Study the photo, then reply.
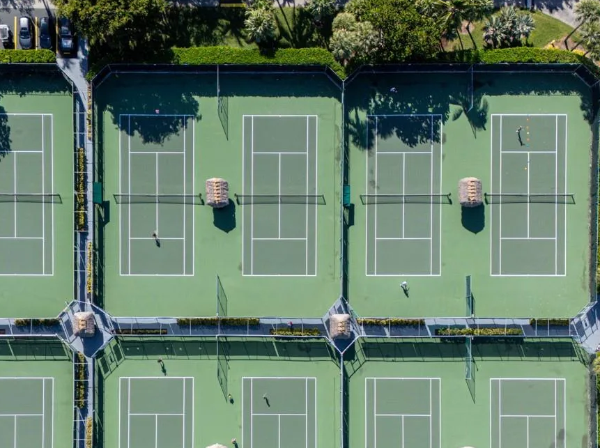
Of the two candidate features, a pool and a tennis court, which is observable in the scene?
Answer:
tennis court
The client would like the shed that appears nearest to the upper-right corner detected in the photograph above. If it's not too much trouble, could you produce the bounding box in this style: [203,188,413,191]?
[454,175,483,209]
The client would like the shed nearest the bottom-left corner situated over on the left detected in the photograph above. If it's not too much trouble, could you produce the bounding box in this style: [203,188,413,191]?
[72,310,97,339]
